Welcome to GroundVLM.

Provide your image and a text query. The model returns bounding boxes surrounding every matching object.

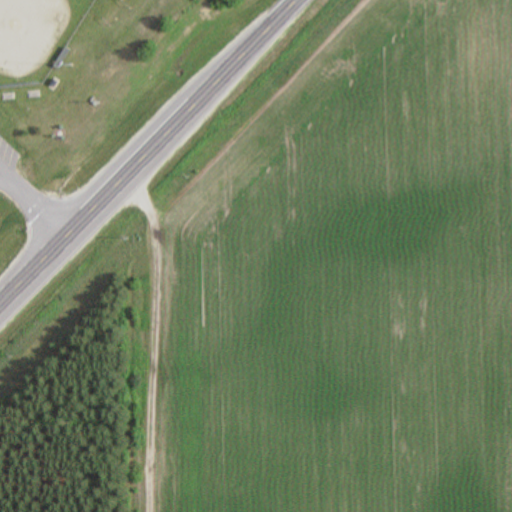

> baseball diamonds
[0,0,72,80]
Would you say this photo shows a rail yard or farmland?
farmland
